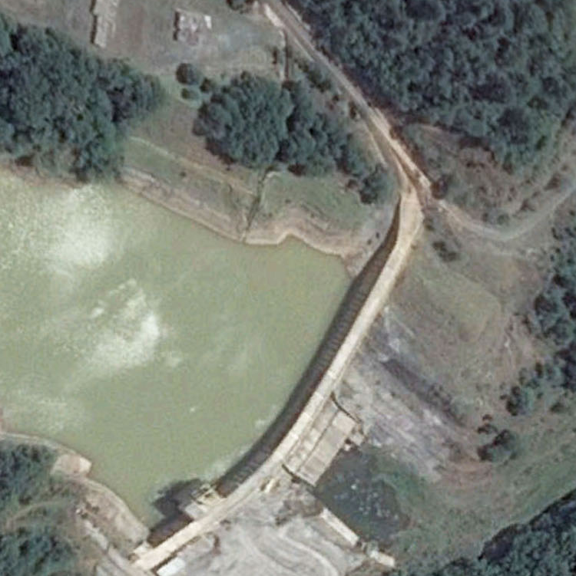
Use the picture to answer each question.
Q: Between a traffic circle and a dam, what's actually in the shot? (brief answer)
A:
dam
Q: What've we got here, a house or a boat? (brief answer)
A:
house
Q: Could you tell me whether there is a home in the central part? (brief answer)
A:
No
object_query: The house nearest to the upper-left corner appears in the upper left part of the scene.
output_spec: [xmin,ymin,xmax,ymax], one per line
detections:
[94,0,115,45]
